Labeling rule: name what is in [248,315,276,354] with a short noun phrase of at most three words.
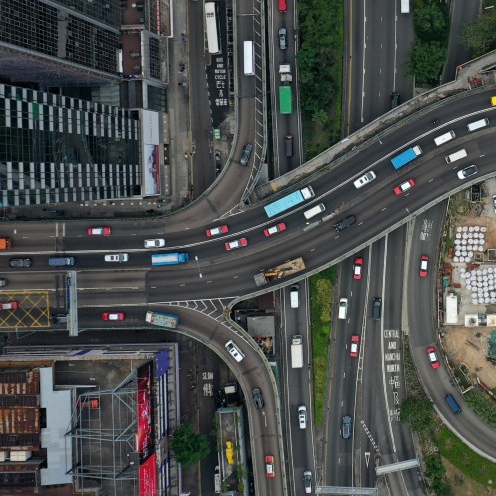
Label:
shed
